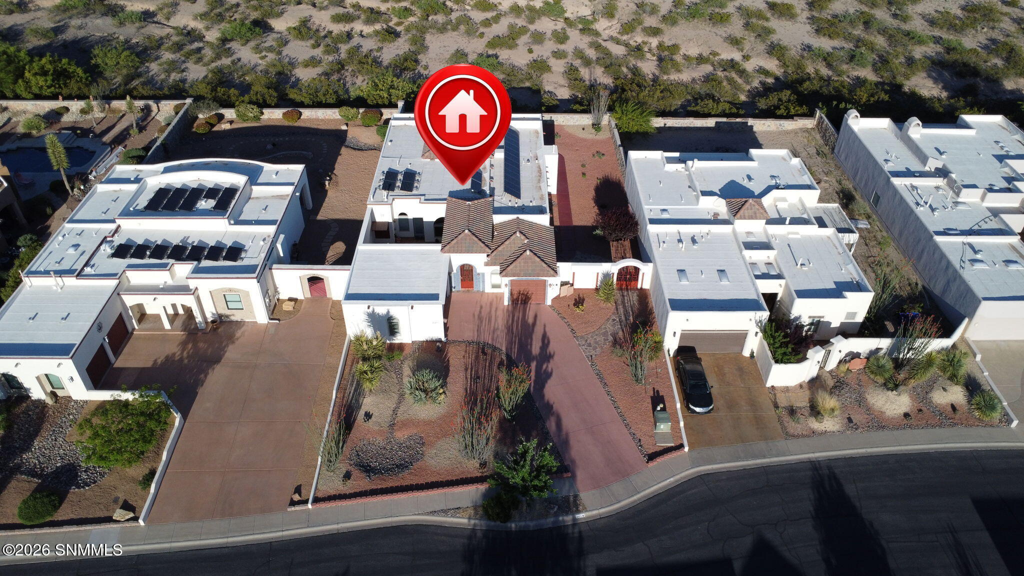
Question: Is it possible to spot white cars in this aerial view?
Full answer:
No, the frame has no white car in it.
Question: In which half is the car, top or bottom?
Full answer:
The car is in the bottom half of the image.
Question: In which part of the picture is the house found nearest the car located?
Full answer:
The house found nearest the car appears toward the right of the photo.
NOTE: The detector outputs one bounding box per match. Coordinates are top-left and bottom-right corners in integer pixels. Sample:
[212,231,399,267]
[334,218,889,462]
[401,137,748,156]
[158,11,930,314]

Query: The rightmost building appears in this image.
[839,109,1024,340]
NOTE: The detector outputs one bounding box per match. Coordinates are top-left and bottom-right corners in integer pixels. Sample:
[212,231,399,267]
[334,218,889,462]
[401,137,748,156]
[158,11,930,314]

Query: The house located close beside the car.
[626,150,873,356]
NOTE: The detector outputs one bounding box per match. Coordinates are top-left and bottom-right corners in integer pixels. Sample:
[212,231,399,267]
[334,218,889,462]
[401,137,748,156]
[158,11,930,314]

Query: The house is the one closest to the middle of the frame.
[342,114,559,343]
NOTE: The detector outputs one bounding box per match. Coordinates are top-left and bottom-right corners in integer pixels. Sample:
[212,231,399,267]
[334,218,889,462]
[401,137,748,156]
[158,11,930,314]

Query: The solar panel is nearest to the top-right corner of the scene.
[503,124,521,200]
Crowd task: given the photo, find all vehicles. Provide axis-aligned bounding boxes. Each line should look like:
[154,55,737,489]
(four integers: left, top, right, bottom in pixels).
[678,352,714,404]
